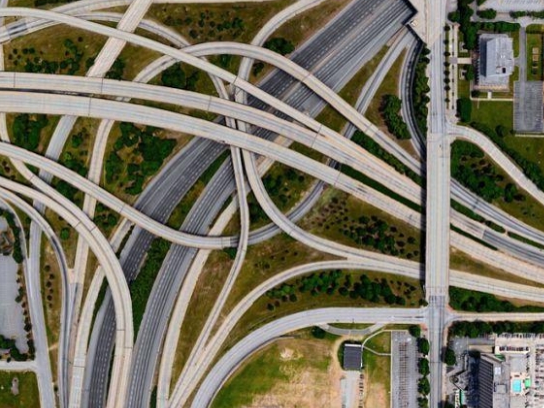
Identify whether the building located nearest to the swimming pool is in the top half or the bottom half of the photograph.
bottom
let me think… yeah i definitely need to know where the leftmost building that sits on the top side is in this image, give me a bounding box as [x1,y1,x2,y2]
[475,35,513,91]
